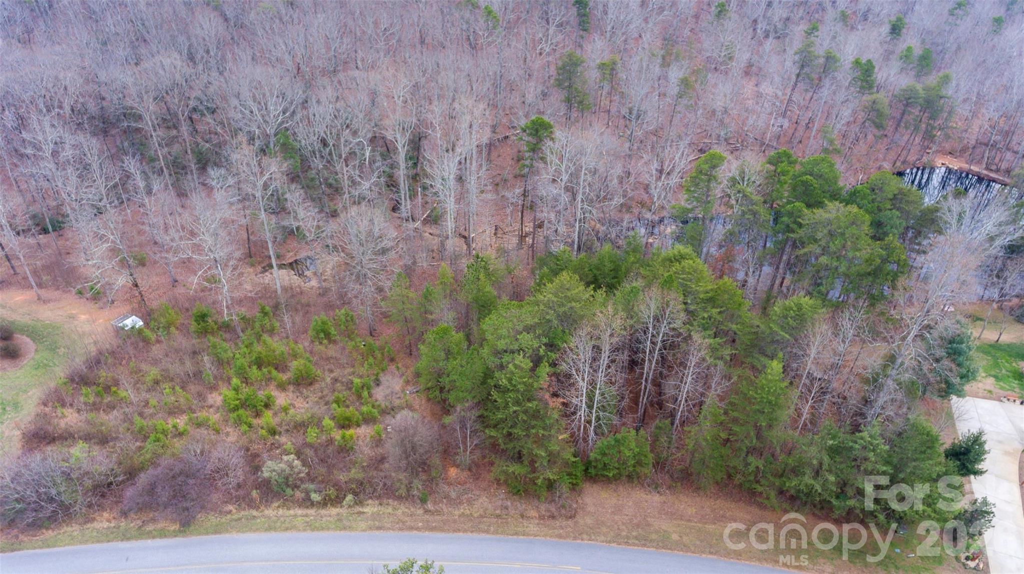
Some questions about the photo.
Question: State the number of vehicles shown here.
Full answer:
No vehicles are visible.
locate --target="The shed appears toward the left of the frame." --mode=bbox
[114,313,147,337]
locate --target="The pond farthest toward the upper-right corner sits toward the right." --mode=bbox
[626,169,1024,300]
